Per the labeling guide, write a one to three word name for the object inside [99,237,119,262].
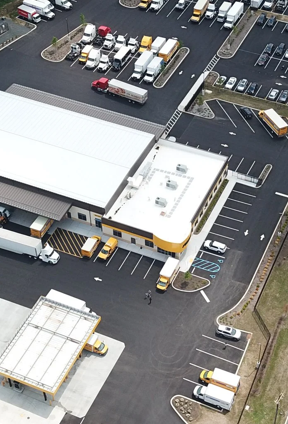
vehicle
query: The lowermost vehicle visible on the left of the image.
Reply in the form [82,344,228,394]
[85,333,109,355]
